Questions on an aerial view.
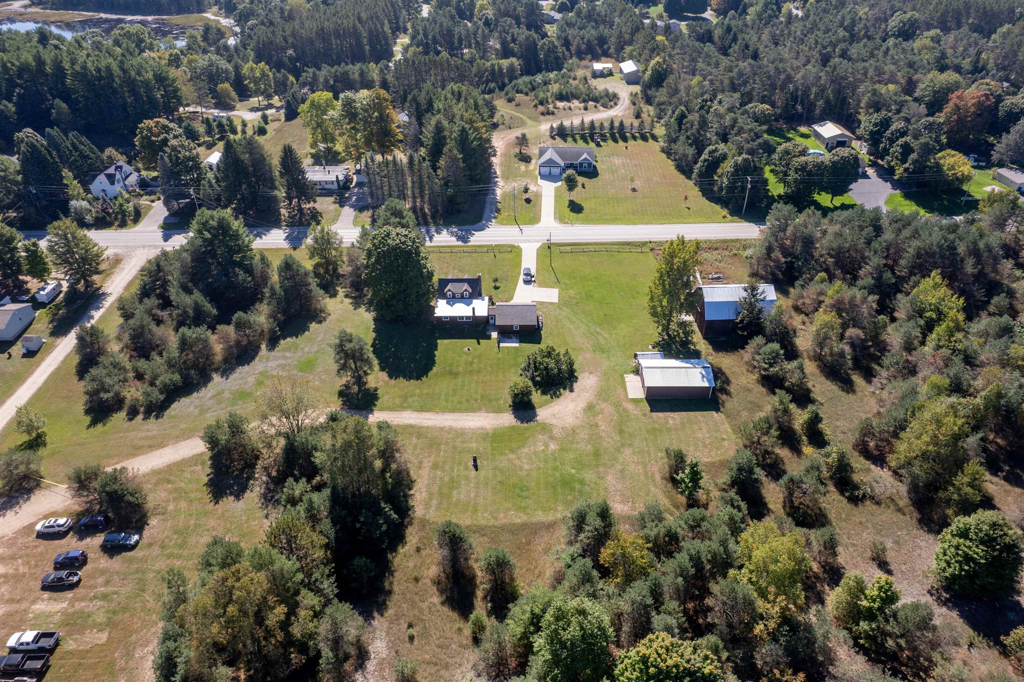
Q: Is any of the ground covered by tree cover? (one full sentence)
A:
Yes, some tree cover is visible.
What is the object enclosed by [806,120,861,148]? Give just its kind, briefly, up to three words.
barn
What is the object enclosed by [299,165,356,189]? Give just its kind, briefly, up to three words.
house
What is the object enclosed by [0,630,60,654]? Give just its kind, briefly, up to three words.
truck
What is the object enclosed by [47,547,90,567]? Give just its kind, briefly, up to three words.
car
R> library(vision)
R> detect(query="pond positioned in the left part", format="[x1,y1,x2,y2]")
[5,17,219,51]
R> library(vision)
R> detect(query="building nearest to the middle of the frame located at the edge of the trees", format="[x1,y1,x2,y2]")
[434,267,537,334]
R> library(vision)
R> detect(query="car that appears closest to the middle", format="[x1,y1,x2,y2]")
[523,268,535,281]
